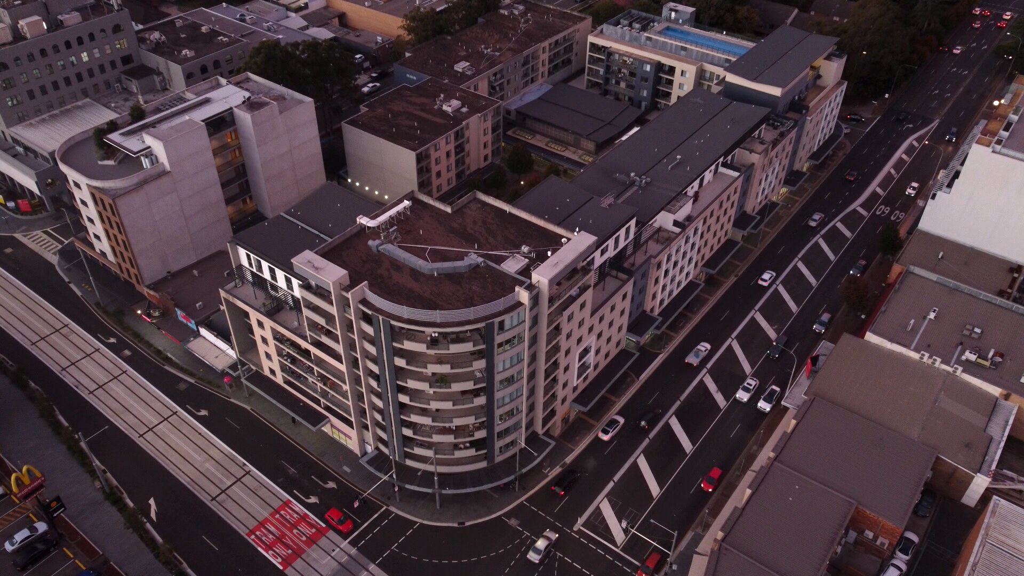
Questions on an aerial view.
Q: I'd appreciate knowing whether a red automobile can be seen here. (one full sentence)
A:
Yes, there is a red automobile in the image.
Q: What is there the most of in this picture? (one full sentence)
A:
The bulk of the photo consists of buildings.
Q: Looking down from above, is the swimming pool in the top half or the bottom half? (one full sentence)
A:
The top half of the photo is where the swimming pool is.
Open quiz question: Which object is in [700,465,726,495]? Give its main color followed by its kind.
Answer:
red car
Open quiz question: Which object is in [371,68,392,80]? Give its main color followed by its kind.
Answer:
black vehicle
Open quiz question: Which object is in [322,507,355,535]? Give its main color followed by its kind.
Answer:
red car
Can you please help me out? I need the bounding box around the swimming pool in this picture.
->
[650,26,746,57]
